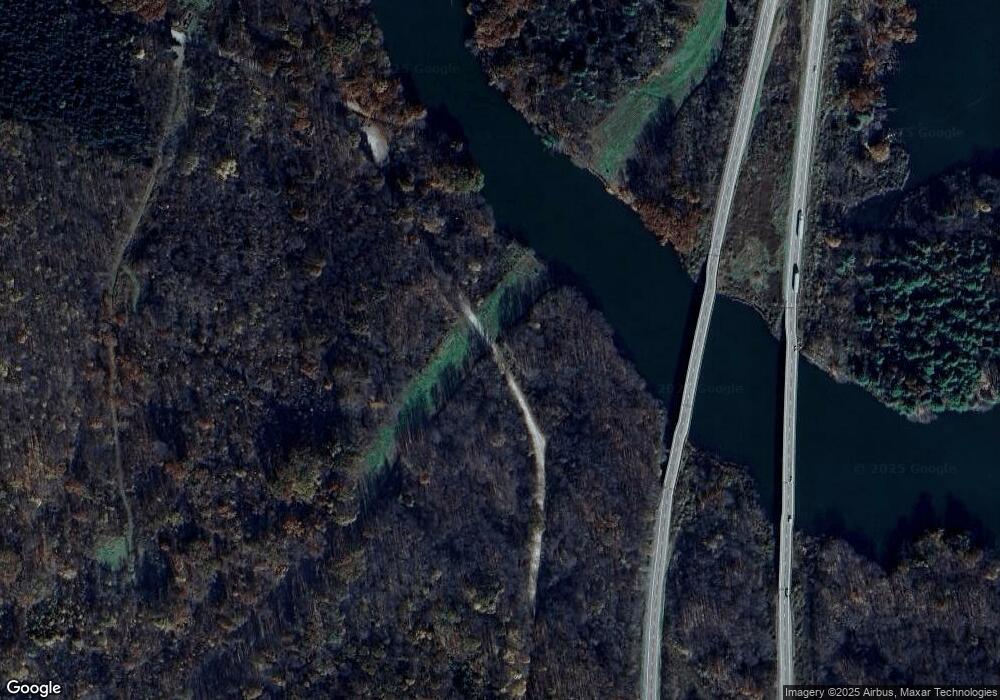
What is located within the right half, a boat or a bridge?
bridge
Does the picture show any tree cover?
Yes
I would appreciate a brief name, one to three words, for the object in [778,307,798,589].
bridge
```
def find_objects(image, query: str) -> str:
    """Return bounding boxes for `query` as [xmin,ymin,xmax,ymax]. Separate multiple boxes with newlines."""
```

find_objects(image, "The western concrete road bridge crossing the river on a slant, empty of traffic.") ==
[660,255,722,504]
